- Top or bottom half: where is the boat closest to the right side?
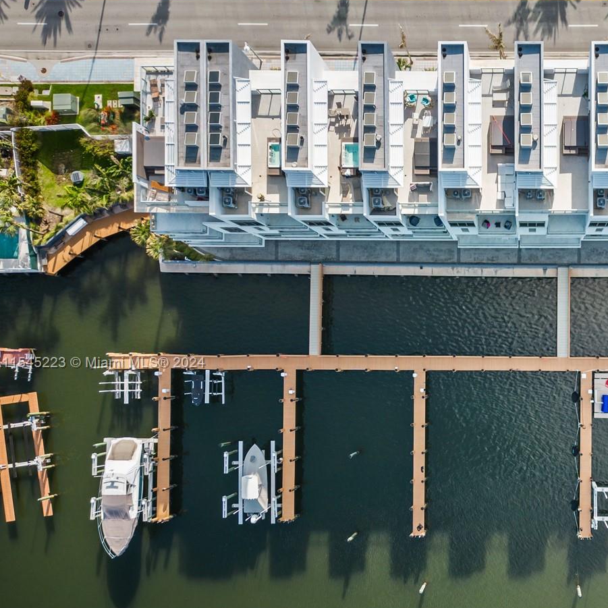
bottom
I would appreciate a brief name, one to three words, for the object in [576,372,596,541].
pier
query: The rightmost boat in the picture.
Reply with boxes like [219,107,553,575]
[241,444,269,525]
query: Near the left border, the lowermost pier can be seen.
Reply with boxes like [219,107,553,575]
[0,392,76,522]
